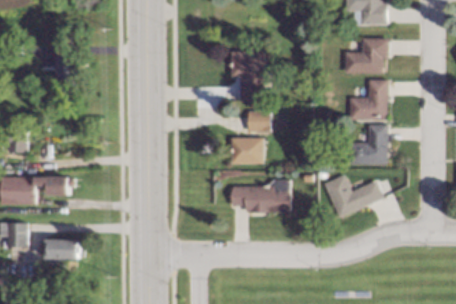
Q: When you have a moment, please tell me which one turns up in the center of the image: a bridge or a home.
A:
home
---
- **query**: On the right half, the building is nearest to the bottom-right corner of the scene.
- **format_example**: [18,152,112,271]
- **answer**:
[324,174,384,218]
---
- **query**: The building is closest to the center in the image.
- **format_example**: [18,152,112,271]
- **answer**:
[232,138,266,165]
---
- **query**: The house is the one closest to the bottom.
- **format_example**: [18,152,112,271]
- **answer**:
[42,239,87,260]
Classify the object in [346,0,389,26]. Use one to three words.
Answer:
house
